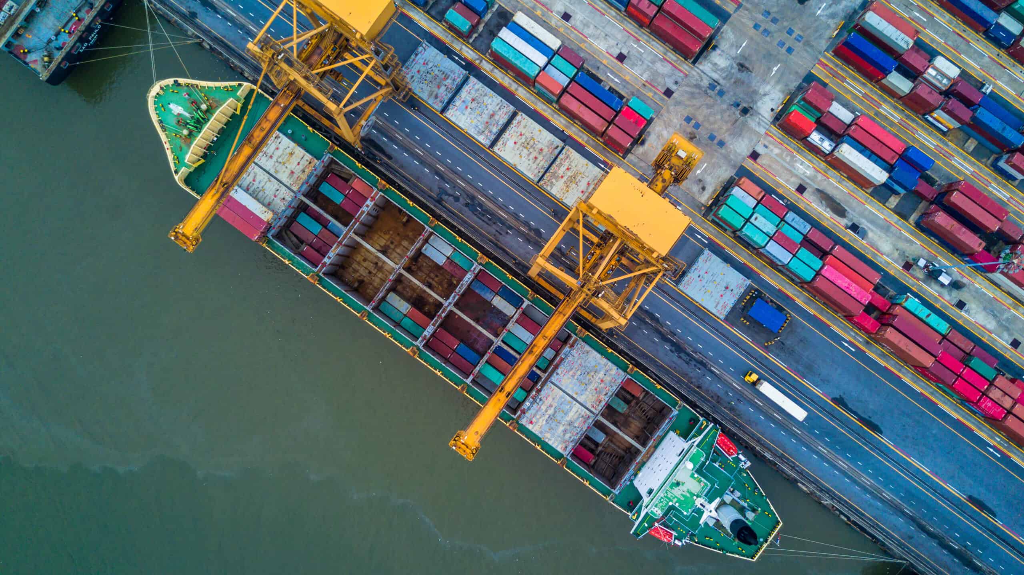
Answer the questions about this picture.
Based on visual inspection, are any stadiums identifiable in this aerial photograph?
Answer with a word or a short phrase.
No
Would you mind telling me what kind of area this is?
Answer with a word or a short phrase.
port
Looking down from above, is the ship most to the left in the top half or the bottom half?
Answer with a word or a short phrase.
top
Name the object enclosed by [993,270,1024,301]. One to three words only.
shipping container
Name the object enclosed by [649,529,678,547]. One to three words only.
boat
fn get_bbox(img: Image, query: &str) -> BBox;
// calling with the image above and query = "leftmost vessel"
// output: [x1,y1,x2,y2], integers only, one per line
[0,0,114,76]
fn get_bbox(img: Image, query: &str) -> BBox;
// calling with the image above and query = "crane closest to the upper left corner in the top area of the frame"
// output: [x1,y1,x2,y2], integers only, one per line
[170,0,417,252]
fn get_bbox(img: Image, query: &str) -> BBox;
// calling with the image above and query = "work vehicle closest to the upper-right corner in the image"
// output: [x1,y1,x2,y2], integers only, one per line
[978,86,998,101]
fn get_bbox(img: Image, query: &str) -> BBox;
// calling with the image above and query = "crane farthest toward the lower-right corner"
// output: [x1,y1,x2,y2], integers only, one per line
[451,133,703,463]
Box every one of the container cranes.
[451,133,703,463]
[170,0,417,252]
